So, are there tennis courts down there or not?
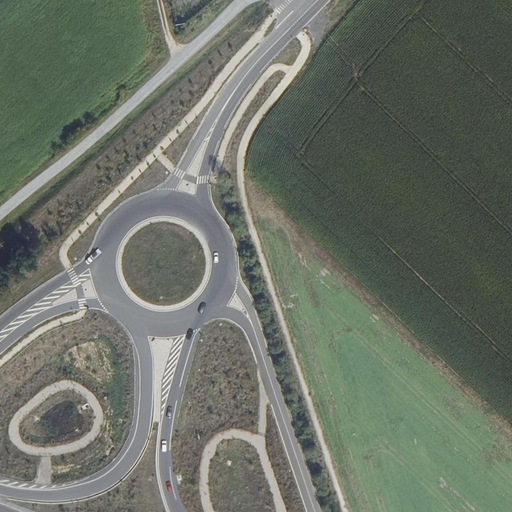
No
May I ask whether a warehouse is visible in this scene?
No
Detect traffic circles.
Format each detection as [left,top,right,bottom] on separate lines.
[90,190,238,338]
